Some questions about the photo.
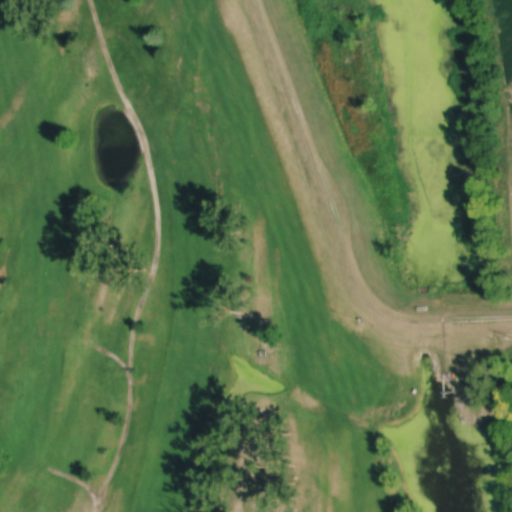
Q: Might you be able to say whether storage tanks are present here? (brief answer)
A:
No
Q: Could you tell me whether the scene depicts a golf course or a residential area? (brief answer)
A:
golf course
